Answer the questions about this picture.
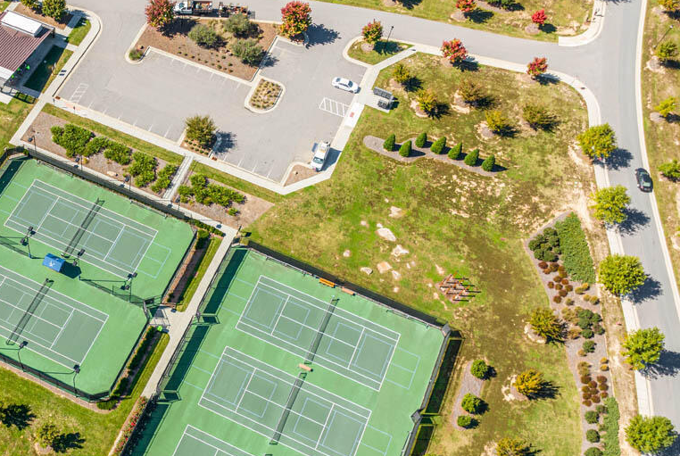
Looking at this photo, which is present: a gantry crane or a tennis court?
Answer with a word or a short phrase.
tennis court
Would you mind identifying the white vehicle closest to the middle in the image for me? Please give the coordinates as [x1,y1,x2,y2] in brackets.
[313,137,333,171]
